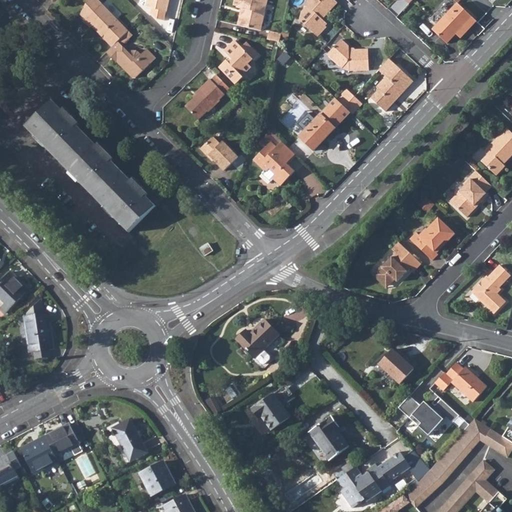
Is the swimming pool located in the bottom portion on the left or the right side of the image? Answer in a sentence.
The swimming pool located in the bottom portion is on the left side of the image.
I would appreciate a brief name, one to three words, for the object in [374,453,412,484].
house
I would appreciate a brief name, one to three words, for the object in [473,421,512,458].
building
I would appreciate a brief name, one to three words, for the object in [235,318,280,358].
house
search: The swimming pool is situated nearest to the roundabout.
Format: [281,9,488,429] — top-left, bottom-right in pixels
[76,453,96,478]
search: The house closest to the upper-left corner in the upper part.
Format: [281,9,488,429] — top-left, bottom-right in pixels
[80,0,127,46]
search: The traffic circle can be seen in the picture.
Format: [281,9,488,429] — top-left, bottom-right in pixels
[89,306,170,388]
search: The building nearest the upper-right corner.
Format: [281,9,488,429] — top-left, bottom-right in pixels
[432,2,476,45]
